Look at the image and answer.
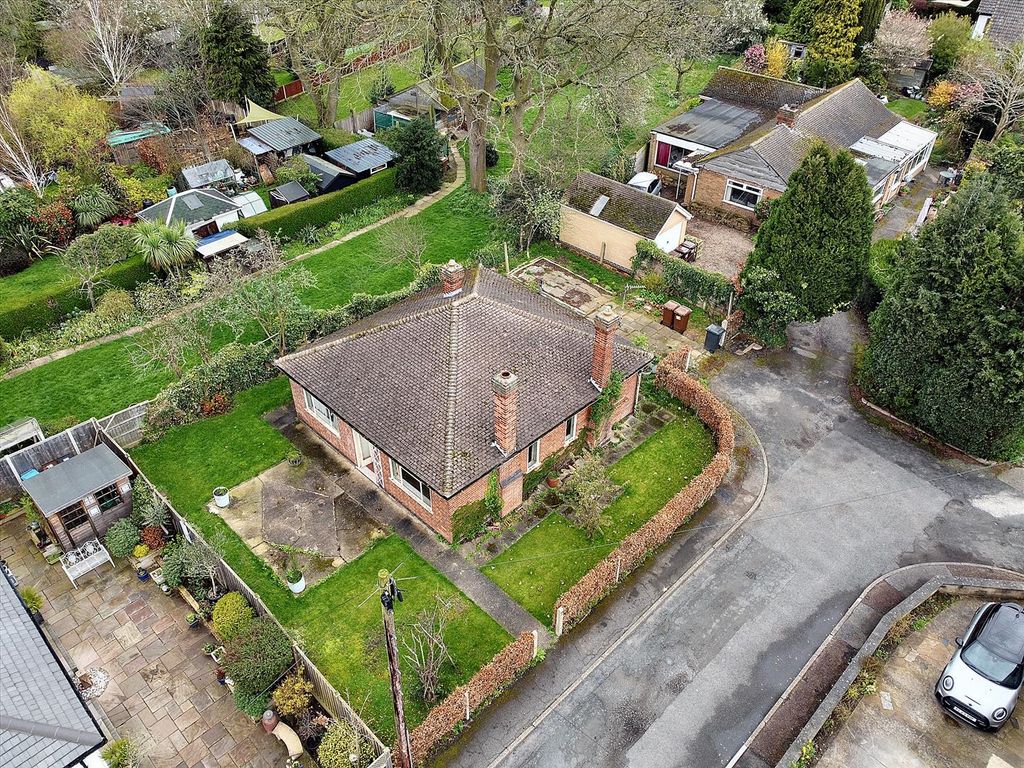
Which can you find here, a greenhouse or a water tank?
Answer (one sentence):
The one in the frame is a greenhouse.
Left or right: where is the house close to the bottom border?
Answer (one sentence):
It is on the left.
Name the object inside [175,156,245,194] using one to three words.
greenhouse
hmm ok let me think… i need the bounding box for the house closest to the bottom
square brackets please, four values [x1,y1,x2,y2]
[0,562,113,768]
